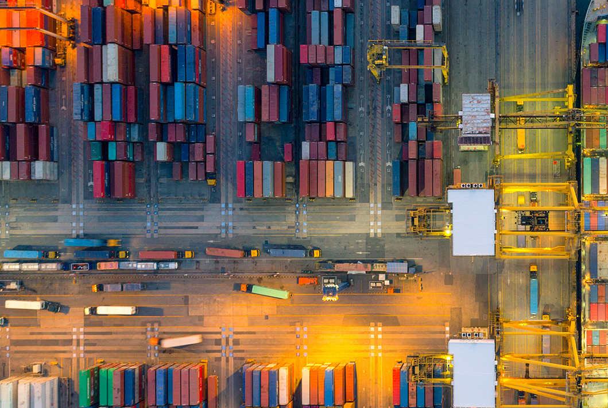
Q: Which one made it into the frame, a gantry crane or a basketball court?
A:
gantry crane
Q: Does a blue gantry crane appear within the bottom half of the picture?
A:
No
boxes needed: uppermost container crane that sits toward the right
[366,41,448,86]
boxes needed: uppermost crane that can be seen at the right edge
[415,79,608,175]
